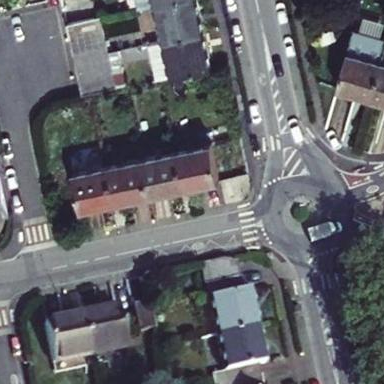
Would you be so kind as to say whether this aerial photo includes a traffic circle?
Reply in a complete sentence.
Yes, a traffic circle can be made out from above.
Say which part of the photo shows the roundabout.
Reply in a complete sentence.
Look in the right portion of the view to spot the roundabout.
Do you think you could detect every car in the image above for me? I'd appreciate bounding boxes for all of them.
[2,138,13,160]
[283,36,296,58]
[272,54,284,77]
[48,0,58,9]
[12,16,24,41]
[244,271,263,281]
[248,102,260,124]
[6,168,18,190]
[232,21,244,42]
[325,130,341,151]
[250,134,262,154]
[118,286,130,310]
[12,192,24,214]
[354,164,375,175]
[290,119,302,144]
[276,2,288,25]
[10,335,22,356]
[227,0,238,12]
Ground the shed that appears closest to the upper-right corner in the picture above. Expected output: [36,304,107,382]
[359,20,384,40]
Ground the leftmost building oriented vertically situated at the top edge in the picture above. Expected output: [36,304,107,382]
[66,18,114,98]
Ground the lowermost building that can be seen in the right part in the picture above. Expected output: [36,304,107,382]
[220,320,270,367]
